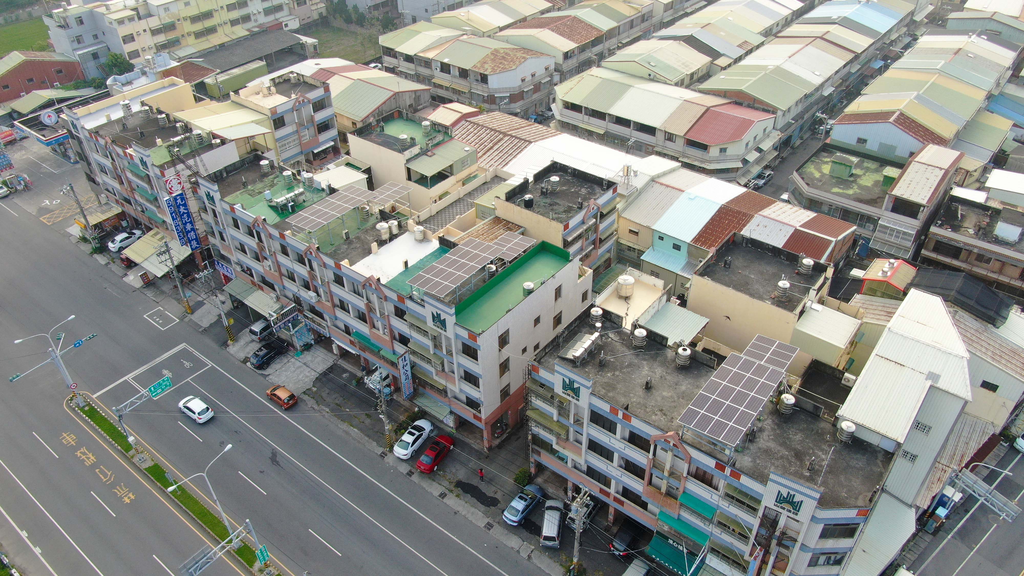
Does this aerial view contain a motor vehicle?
Yes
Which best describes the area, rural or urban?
urban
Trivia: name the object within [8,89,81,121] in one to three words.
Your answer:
shed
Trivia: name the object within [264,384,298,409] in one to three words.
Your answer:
car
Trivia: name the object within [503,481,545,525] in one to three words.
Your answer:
car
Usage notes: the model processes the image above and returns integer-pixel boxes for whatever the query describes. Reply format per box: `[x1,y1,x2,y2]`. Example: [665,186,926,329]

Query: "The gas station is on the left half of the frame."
[14,91,109,164]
